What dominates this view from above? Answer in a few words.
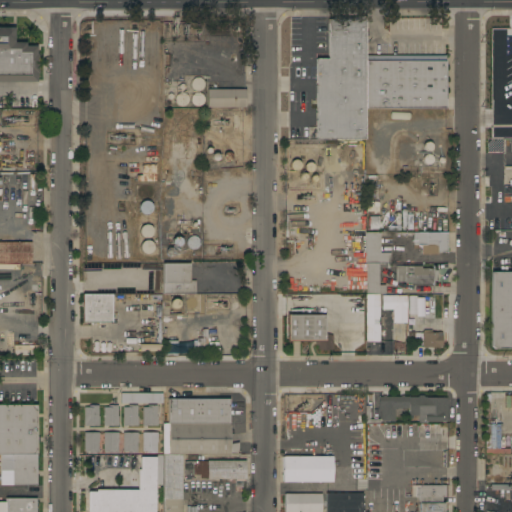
paved ground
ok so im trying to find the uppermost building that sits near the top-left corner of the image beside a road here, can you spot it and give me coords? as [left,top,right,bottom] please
[0,26,38,81]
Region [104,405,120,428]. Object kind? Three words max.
house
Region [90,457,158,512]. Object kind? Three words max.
building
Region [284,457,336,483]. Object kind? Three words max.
building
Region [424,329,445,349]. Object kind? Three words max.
house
